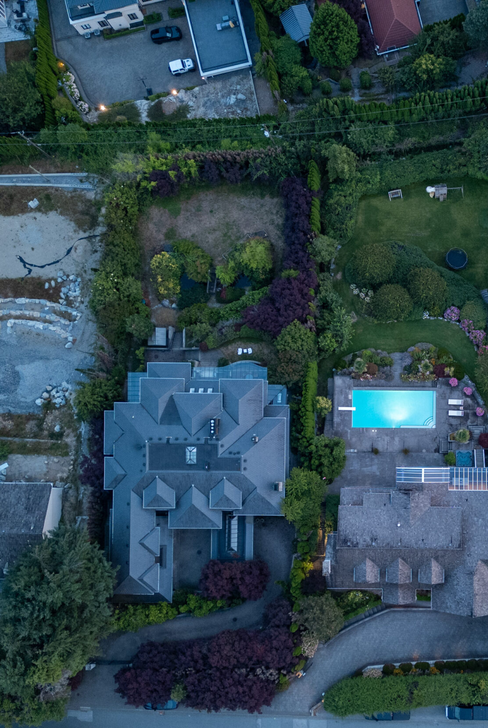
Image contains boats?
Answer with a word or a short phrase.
No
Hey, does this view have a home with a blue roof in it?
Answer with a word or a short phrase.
Yes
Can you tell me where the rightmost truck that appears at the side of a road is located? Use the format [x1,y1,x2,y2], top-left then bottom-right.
[445,702,488,724]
